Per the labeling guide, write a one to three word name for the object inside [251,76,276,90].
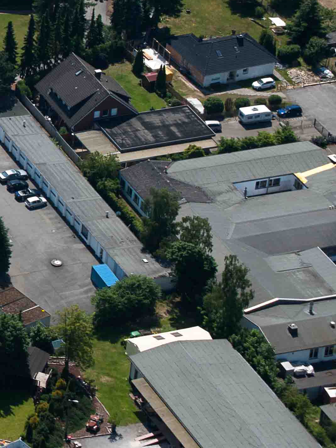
vehicle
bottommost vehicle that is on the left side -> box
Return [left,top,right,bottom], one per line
[87,413,102,434]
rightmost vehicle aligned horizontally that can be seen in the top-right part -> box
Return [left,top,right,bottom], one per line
[277,104,303,117]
